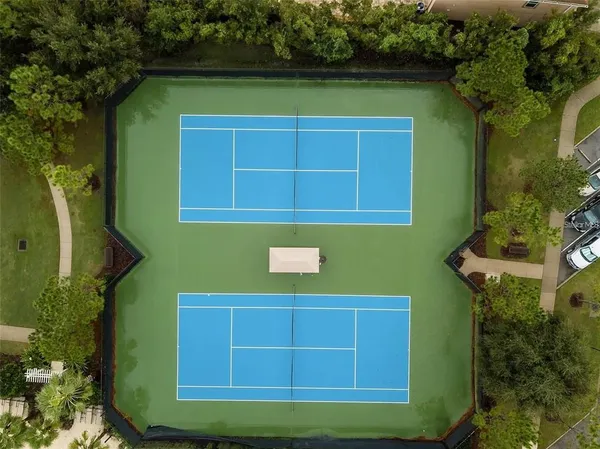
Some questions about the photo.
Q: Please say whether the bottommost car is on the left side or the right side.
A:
right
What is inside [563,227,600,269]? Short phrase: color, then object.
white car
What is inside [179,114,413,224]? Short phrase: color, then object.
blue tennis court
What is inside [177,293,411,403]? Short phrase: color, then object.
blue tennis court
